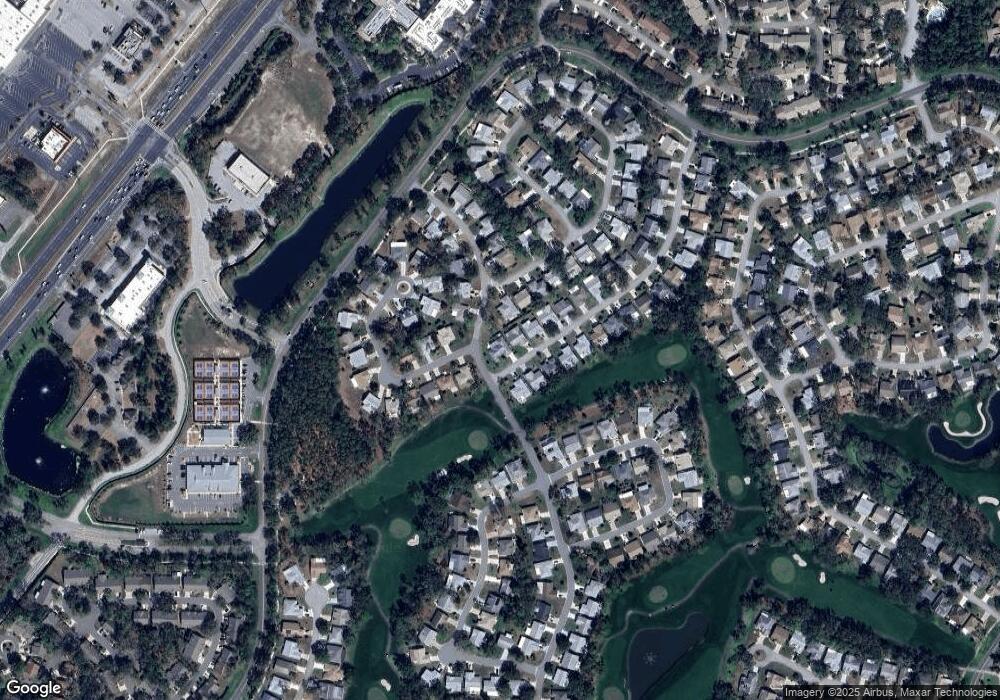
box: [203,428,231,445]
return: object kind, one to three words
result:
building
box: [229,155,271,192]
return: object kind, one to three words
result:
building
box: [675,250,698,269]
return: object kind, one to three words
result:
house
